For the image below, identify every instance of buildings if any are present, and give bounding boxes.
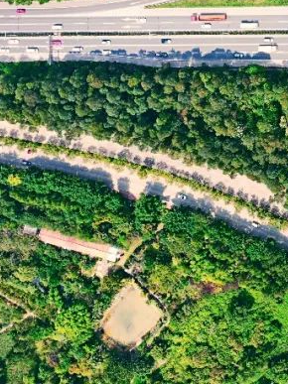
[22,224,39,235]
[39,225,123,261]
[94,258,112,277]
